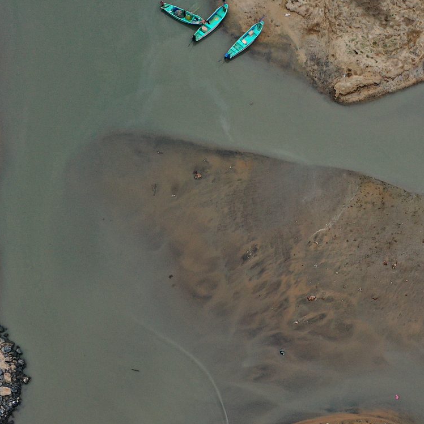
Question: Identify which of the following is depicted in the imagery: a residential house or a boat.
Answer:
boat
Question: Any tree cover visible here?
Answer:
No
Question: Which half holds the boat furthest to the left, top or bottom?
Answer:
top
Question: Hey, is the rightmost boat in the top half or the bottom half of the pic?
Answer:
top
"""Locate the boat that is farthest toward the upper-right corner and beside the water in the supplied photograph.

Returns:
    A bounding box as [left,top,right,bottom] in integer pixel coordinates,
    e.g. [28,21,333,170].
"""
[224,16,264,60]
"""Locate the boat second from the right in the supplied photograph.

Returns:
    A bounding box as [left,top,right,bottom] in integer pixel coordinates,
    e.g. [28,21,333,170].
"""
[190,1,227,45]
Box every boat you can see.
[190,1,227,45]
[153,0,204,24]
[224,16,264,60]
